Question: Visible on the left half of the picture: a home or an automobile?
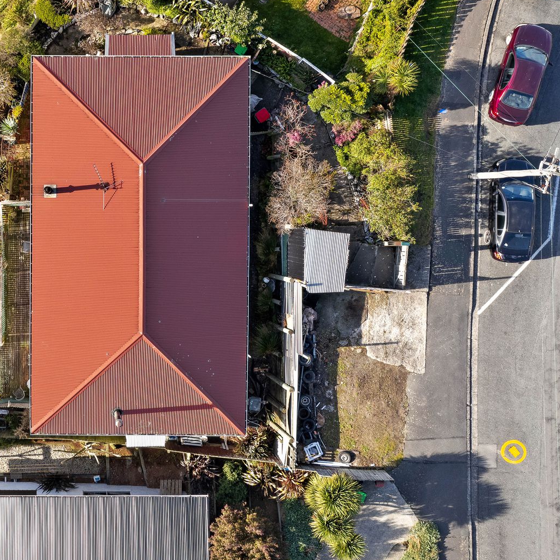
home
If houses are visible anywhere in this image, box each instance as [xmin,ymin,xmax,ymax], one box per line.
[28,32,252,447]
[0,484,214,560]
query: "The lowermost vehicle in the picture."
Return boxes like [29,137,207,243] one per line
[488,162,539,261]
